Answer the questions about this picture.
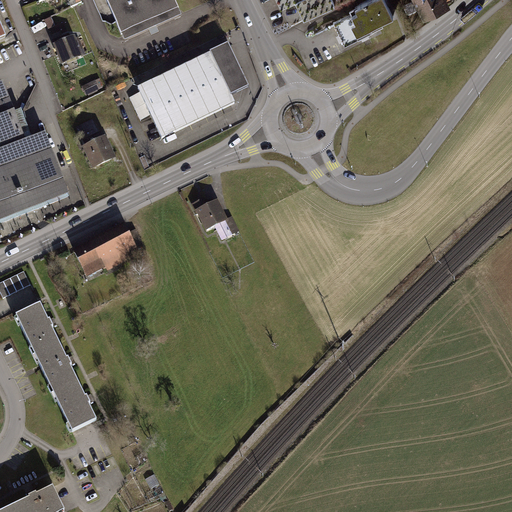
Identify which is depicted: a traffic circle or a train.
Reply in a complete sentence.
Of the two, only a traffic circle appears.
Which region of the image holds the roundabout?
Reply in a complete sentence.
The roundabout is in the top part of the image.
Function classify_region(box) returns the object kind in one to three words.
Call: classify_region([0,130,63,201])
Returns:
building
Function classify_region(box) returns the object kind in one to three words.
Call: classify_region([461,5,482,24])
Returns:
vehicle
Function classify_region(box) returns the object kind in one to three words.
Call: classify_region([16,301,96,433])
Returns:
building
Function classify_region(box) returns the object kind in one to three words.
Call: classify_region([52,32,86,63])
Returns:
house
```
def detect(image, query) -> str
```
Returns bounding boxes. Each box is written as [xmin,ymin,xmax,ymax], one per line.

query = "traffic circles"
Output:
[235,53,367,177]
